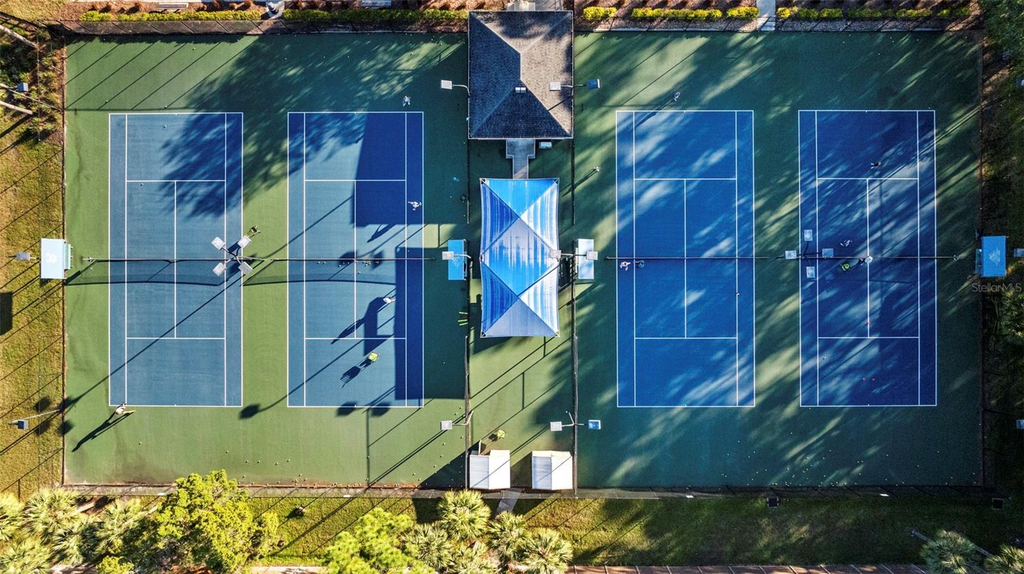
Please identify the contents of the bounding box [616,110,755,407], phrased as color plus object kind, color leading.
blue tennis court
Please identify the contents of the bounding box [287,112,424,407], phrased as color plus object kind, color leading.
blue tennis court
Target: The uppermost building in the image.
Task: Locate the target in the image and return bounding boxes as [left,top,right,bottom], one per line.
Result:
[467,8,575,142]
